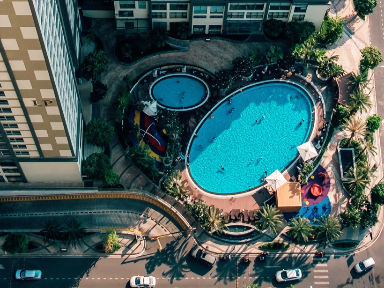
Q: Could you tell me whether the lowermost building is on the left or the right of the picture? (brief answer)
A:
right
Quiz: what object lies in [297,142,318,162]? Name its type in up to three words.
umbrella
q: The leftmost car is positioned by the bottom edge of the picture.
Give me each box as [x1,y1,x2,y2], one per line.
[16,267,42,281]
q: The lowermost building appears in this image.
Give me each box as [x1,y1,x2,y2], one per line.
[274,182,302,211]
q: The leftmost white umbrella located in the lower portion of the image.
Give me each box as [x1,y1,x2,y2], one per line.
[264,169,287,191]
